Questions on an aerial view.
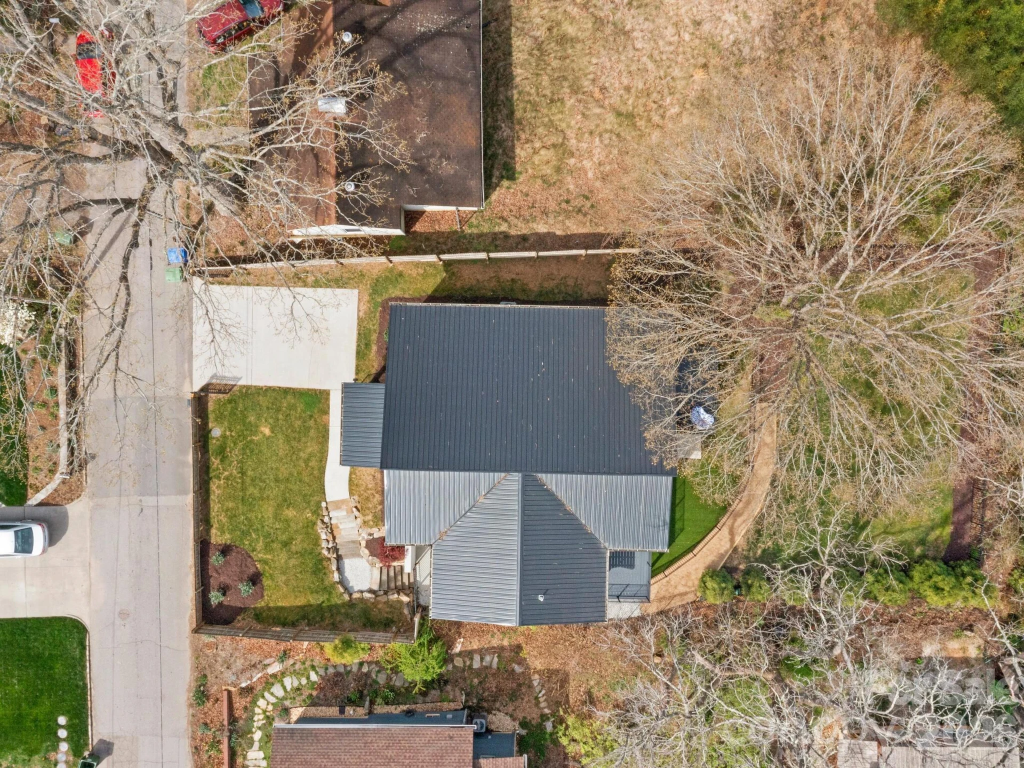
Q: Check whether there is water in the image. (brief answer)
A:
No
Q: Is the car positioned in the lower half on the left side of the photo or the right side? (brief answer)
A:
left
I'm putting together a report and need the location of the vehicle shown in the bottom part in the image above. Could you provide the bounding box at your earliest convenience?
[0,518,52,557]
